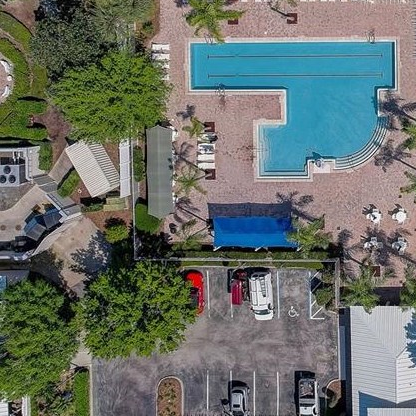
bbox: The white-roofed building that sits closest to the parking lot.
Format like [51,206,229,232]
[350,303,416,416]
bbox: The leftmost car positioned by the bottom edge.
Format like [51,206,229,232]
[229,388,251,416]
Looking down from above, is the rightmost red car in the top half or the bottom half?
bottom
